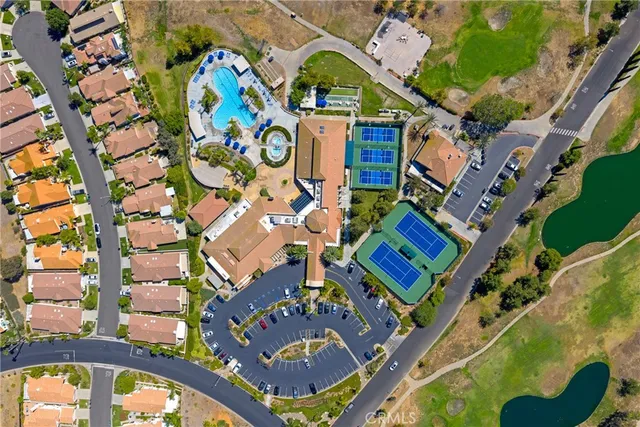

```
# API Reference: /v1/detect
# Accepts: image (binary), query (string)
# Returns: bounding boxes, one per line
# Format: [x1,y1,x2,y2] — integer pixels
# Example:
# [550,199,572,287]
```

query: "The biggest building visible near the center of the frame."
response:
[203,119,347,291]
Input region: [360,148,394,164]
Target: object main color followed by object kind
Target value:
blue sports court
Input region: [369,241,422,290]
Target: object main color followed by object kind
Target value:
blue tennis court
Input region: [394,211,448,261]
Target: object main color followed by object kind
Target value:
blue tennis court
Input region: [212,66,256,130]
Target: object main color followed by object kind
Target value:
blue swimming pool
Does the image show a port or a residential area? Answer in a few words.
residential area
